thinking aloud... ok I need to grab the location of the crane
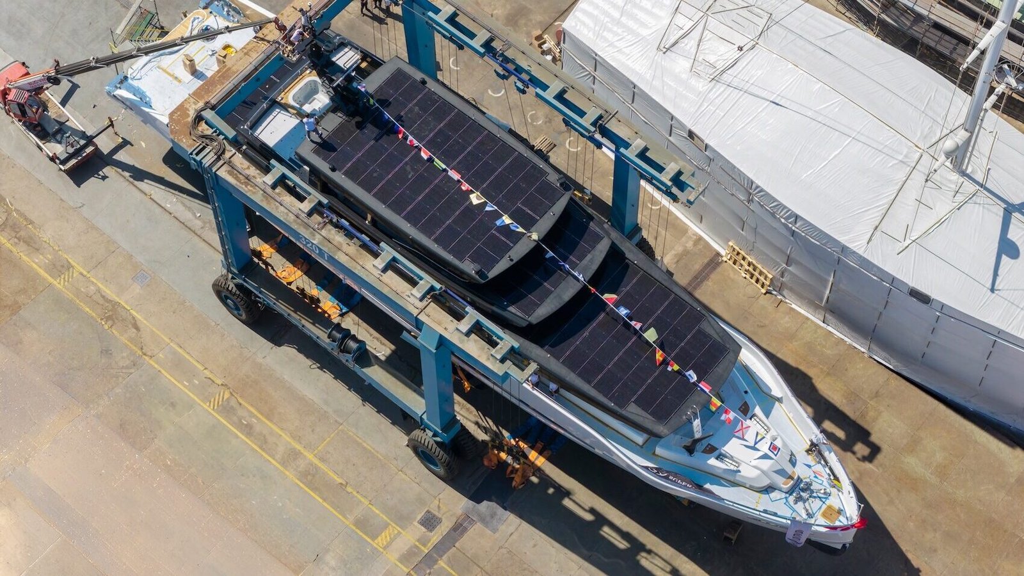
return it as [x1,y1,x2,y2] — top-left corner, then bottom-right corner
[0,12,298,182]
